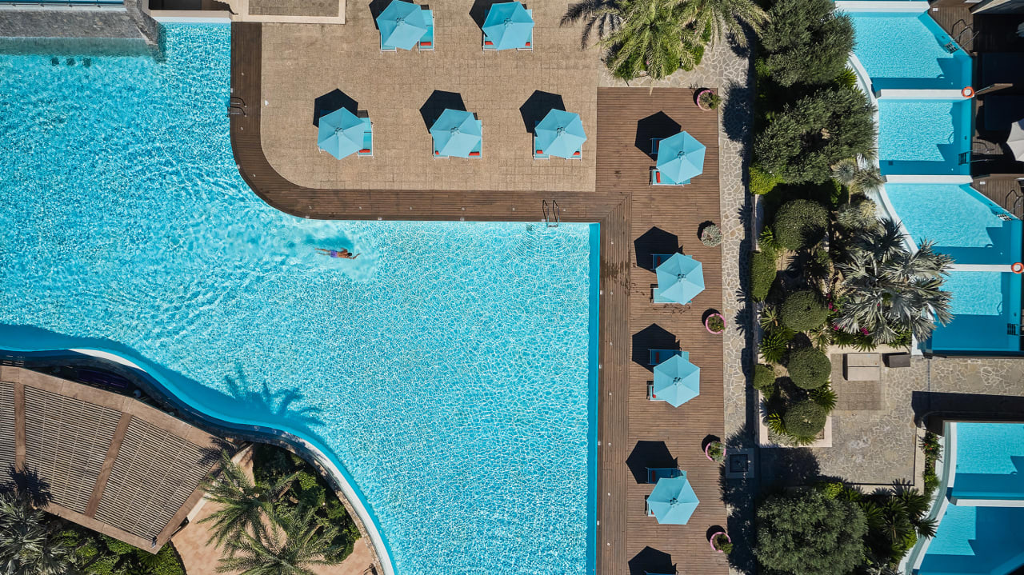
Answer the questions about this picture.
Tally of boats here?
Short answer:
none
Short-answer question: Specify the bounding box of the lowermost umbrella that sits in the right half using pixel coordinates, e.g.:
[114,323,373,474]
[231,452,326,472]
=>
[645,474,699,522]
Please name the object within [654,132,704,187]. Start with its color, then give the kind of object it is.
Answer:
blue umbrella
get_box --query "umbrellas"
[377,0,429,53]
[533,110,586,162]
[654,132,704,187]
[317,106,366,160]
[652,251,703,305]
[645,474,699,522]
[650,353,698,407]
[482,2,536,53]
[429,109,484,159]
